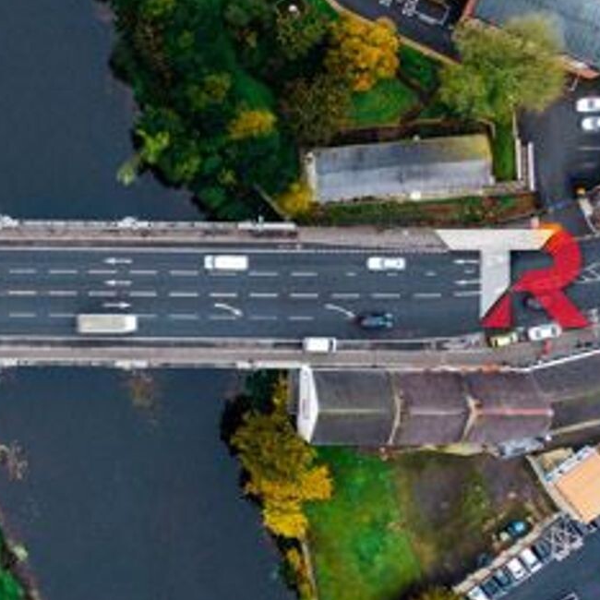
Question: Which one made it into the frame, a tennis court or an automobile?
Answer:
automobile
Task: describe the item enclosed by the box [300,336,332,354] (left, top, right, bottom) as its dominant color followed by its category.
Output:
white vehicle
